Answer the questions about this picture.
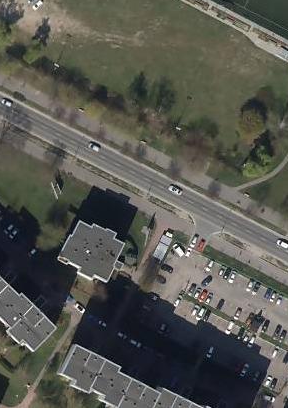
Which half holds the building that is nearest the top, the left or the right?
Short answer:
left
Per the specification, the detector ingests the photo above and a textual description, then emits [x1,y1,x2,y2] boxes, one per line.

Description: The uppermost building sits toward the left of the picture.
[58,221,125,283]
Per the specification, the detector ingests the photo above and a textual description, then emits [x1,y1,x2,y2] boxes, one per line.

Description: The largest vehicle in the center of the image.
[156,232,172,260]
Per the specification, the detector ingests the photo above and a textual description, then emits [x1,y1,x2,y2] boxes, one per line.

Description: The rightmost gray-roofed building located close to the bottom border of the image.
[56,345,202,408]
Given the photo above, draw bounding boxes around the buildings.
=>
[56,345,202,408]
[0,277,56,353]
[58,221,125,283]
